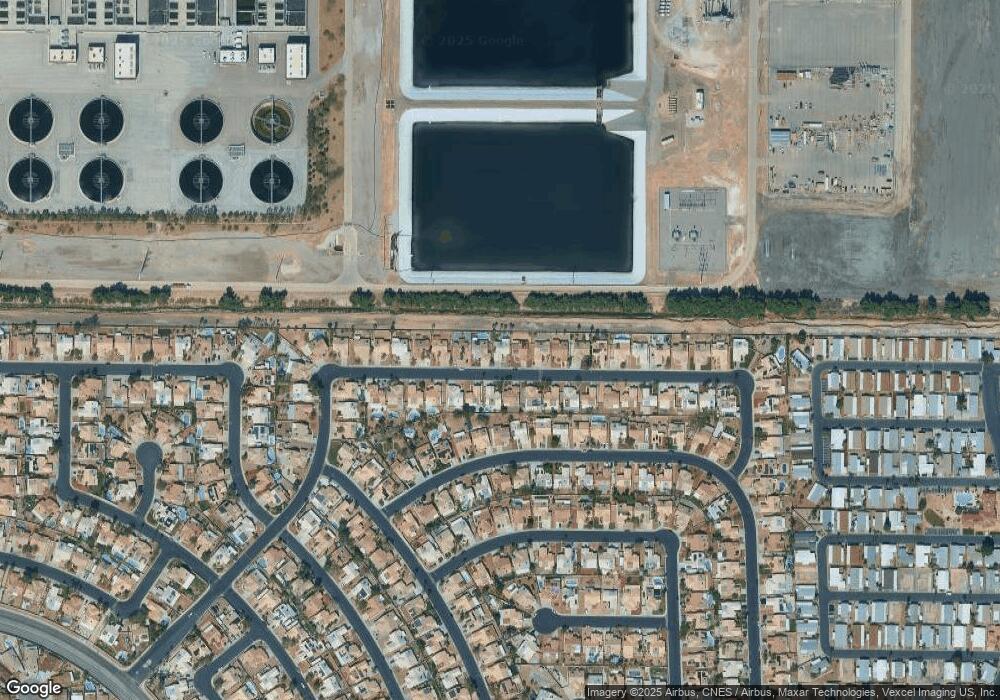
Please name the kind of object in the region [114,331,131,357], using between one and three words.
house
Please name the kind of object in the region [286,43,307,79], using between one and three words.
building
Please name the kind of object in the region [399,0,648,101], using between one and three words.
pond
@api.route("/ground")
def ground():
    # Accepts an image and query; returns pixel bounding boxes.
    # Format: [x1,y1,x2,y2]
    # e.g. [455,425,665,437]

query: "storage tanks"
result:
[8,155,54,204]
[179,96,225,144]
[250,96,295,144]
[79,96,124,144]
[78,155,124,204]
[179,155,224,204]
[8,96,54,144]
[249,155,295,204]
